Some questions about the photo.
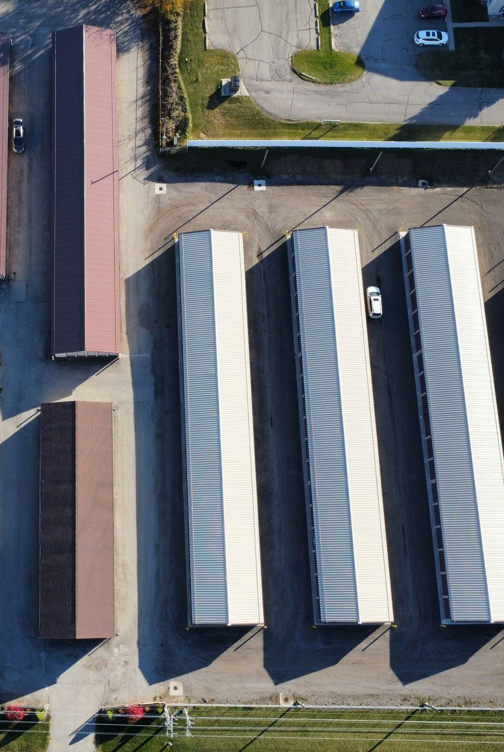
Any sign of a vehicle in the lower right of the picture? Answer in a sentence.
No, in the lower right of the picture there is no vehicle.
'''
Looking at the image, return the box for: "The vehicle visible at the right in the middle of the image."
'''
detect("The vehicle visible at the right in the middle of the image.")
[365,286,382,319]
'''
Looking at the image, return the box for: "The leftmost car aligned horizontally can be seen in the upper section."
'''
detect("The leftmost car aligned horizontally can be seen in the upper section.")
[331,0,360,14]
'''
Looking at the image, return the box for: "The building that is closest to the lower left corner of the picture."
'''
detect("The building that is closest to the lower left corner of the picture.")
[37,400,117,639]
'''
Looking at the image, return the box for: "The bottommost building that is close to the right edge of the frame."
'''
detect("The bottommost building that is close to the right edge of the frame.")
[397,223,504,623]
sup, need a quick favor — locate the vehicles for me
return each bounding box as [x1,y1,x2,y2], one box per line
[419,3,448,20]
[413,31,448,47]
[11,119,25,155]
[331,0,360,14]
[365,286,382,319]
